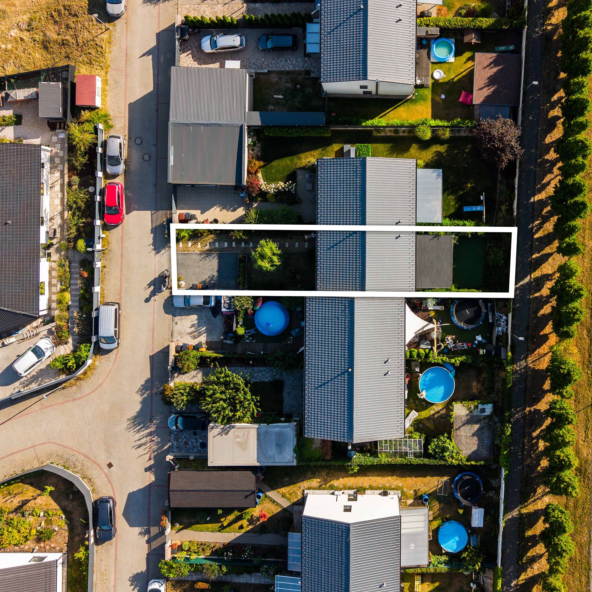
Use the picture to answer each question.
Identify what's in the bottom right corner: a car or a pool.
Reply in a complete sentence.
The feature located in the bottom right corner is a pool.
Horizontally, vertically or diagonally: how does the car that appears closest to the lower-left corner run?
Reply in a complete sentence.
I'd say the car that appears closest to the lower-left corner is aligned vertically in the picture.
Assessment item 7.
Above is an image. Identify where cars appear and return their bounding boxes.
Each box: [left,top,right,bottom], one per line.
[202,32,247,55]
[168,412,209,433]
[173,288,216,308]
[102,182,126,225]
[146,577,167,592]
[259,32,299,53]
[13,337,57,377]
[95,495,119,546]
[104,0,128,18]
[104,134,127,176]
